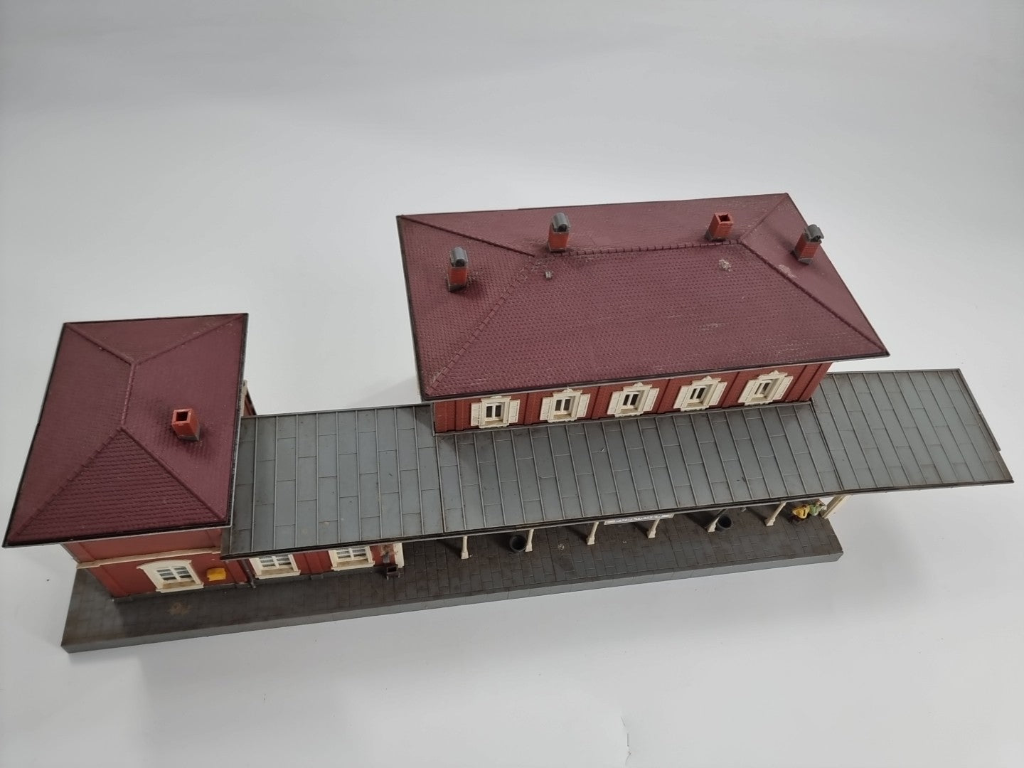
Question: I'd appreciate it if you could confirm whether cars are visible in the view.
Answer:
No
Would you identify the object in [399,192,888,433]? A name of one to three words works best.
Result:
building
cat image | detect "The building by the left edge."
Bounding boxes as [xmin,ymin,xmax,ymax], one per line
[3,313,256,604]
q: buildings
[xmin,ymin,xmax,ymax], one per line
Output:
[399,192,888,433]
[3,313,256,604]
